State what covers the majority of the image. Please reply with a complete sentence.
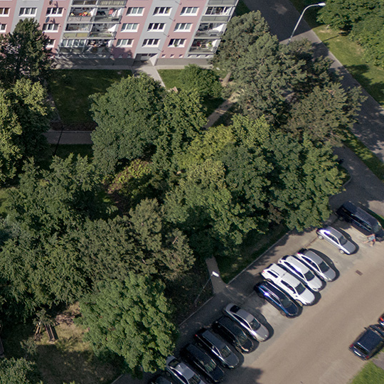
The largest share of the image is taken up by trees.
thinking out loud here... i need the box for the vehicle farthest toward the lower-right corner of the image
[348,323,384,363]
